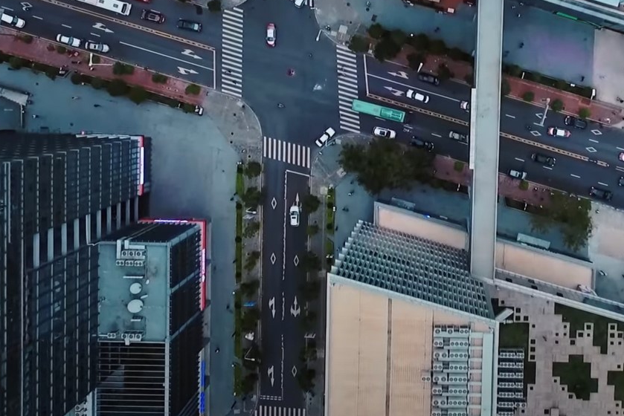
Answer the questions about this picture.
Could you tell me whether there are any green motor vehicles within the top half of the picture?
Yes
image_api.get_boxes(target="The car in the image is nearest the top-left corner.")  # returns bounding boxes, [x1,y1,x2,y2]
[1,13,27,28]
